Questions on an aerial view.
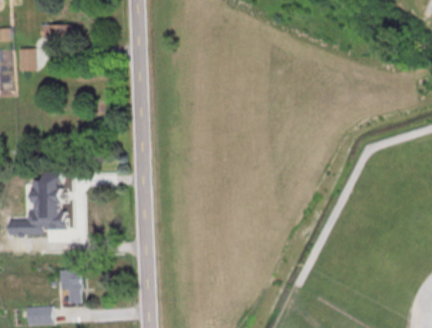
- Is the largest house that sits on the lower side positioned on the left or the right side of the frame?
left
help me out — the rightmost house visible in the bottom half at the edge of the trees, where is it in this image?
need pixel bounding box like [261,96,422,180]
[60,272,82,306]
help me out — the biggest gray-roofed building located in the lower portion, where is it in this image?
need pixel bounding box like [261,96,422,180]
[8,169,65,237]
